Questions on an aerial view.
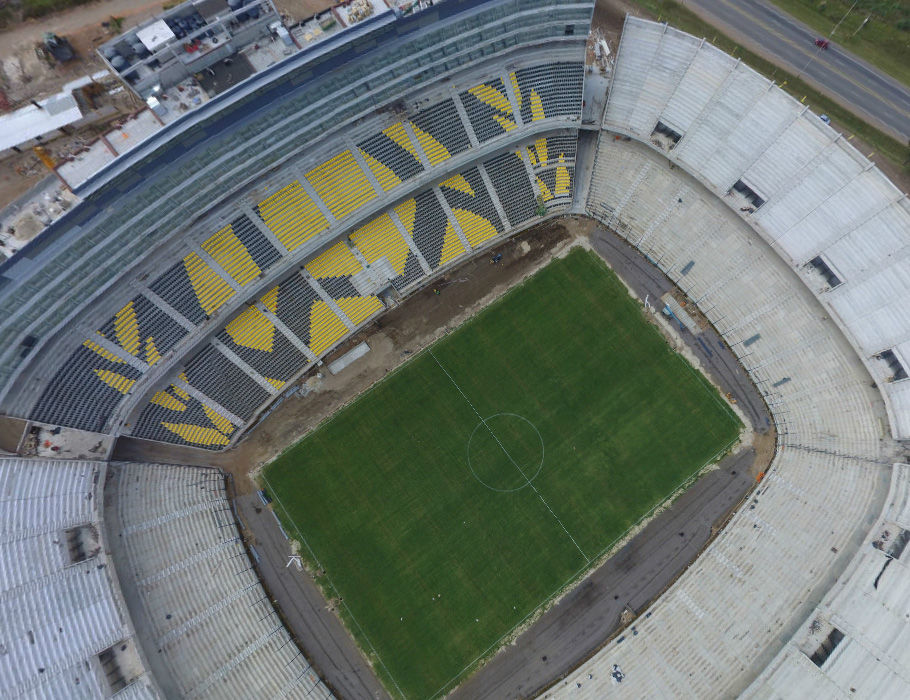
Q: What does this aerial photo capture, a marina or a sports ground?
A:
sports ground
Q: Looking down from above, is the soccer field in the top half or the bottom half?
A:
bottom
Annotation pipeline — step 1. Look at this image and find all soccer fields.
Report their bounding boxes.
[255,242,746,700]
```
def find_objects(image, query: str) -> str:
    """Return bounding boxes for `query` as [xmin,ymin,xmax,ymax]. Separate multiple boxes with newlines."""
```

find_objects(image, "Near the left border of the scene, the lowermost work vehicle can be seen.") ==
[36,149,52,170]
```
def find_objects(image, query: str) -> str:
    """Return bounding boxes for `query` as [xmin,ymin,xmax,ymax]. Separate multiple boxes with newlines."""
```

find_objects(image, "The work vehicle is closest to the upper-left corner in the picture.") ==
[43,30,74,62]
